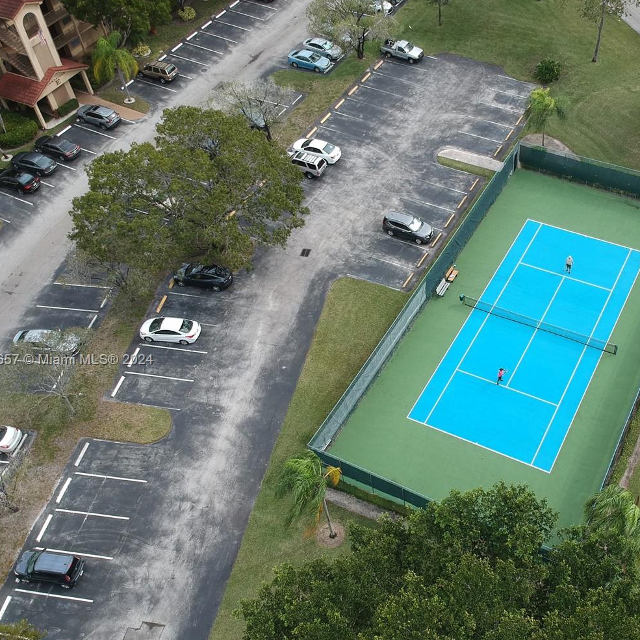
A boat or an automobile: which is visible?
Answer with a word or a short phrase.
automobile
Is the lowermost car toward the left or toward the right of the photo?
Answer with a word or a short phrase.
left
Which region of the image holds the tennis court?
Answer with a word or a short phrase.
right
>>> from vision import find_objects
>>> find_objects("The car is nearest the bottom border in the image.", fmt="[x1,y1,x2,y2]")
[12,548,89,589]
